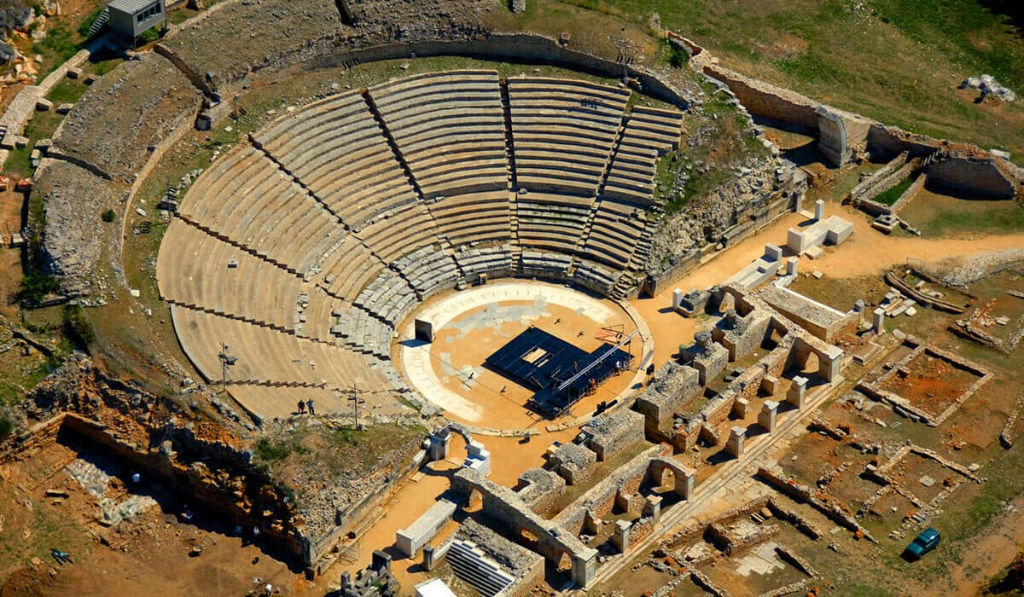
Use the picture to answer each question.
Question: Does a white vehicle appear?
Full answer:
No, I can see no white vehicle in this picture.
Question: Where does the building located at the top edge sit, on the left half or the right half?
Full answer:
The building located at the top edge appears in the left half of the scene.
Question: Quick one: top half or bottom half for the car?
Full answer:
It is in the bottom half that the car appears.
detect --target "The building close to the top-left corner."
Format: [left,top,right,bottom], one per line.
[106,0,169,53]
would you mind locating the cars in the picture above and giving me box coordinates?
[904,522,946,559]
